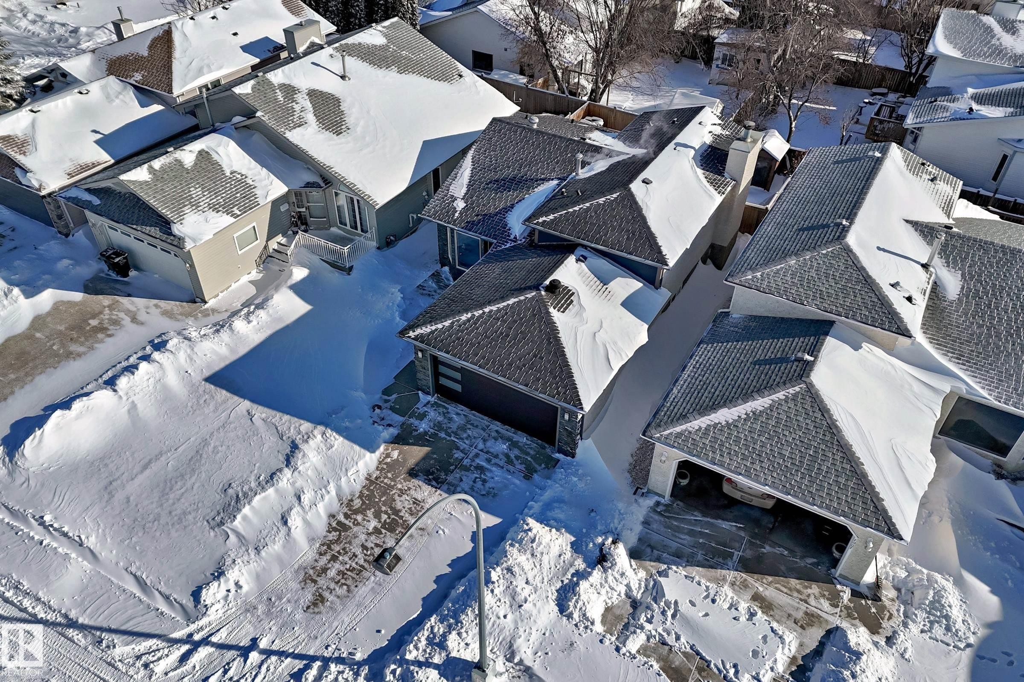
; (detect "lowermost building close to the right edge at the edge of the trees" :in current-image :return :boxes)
[636,141,1024,578]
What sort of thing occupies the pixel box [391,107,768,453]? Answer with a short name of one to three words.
house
